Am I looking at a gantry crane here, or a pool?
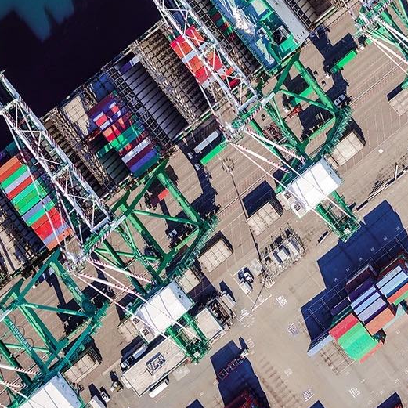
gantry crane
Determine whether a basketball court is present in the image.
No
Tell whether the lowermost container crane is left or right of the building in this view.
to the left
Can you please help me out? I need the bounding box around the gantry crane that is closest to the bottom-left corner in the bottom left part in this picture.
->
[0,239,121,408]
